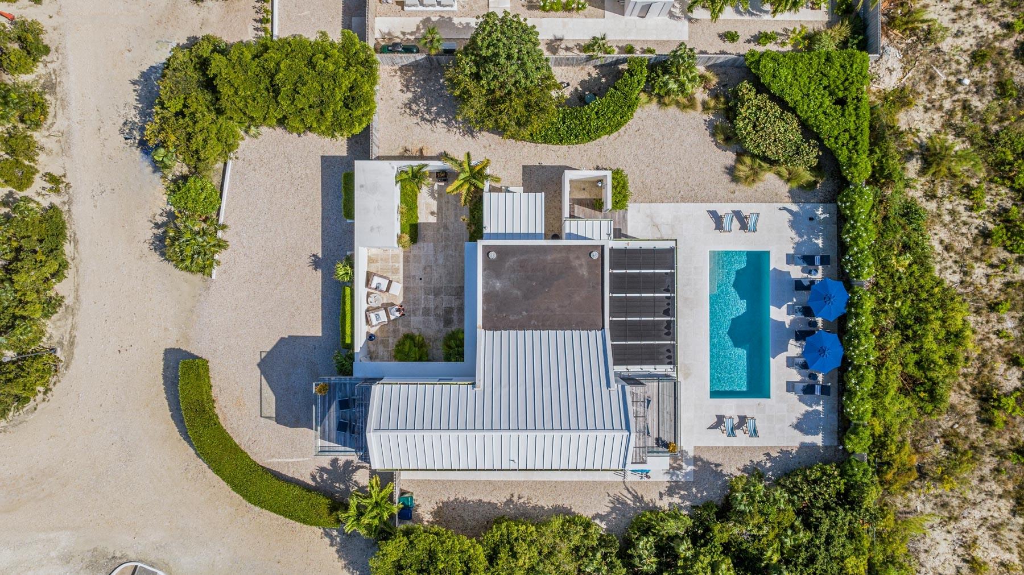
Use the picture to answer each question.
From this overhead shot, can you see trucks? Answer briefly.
No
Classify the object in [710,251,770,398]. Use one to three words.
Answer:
swimming pool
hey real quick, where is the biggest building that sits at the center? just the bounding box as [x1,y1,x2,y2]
[315,161,682,472]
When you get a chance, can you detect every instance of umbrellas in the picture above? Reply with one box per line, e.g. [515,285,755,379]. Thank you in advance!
[805,277,848,321]
[800,330,844,374]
